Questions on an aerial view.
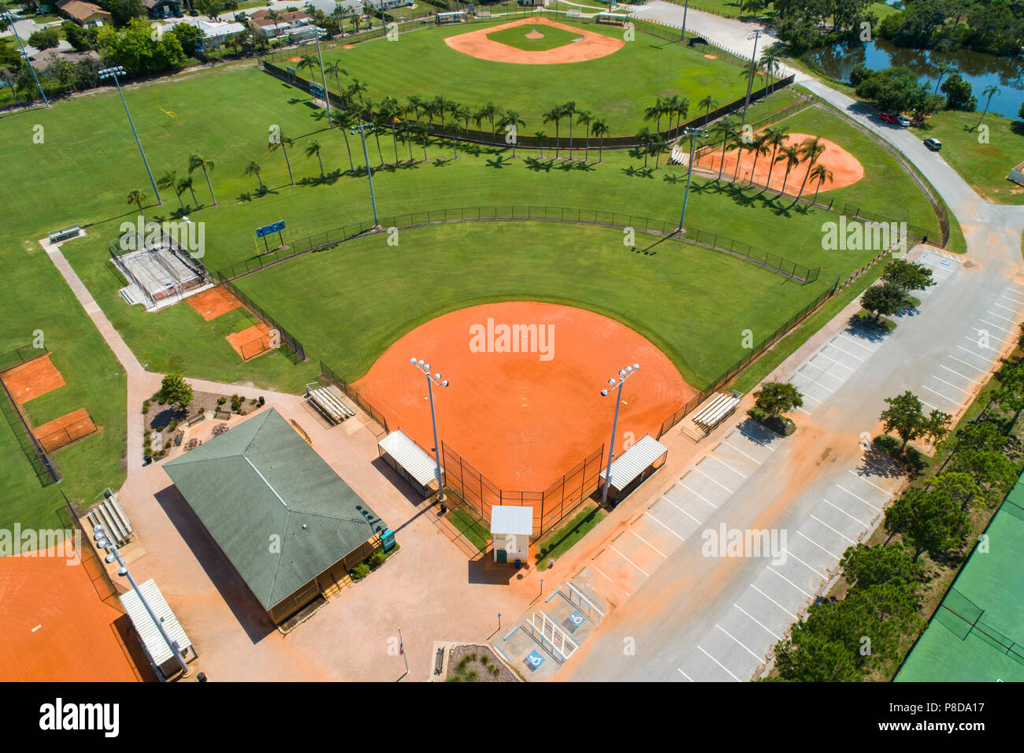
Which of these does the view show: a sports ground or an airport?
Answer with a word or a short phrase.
sports ground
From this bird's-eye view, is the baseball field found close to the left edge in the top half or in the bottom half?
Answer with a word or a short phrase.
bottom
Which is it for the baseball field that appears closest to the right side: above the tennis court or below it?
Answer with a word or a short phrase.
above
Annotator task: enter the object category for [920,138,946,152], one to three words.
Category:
car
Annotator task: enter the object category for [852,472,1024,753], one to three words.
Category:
tennis court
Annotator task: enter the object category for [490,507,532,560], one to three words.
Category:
building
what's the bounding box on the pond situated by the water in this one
[797,36,1024,122]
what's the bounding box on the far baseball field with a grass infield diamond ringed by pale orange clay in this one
[270,17,792,149]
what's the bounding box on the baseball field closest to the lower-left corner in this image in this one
[0,520,188,753]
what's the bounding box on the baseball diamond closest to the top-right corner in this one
[695,103,946,246]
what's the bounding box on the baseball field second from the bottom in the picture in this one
[225,220,833,535]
